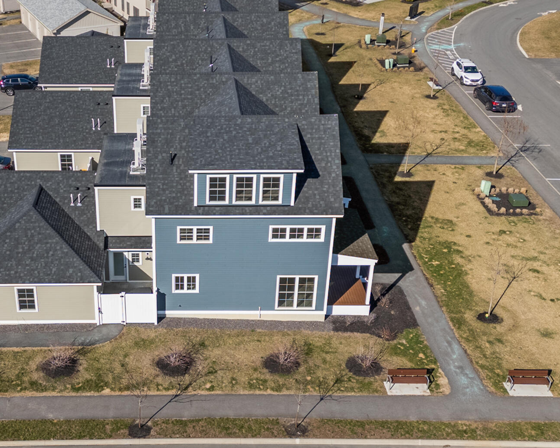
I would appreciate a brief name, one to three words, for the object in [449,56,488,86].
car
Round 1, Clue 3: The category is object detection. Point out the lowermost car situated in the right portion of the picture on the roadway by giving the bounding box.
[472,83,517,112]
